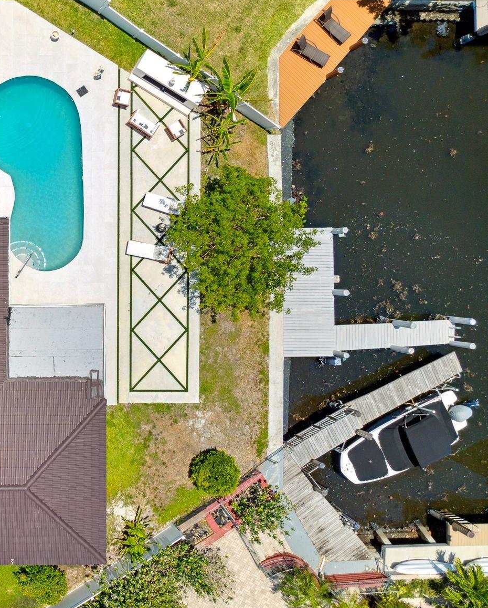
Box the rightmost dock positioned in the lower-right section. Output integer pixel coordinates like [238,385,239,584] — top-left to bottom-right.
[443,523,488,543]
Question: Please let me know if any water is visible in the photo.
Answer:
Yes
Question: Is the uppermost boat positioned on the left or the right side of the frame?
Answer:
right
